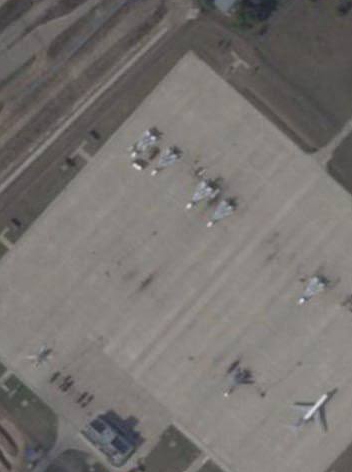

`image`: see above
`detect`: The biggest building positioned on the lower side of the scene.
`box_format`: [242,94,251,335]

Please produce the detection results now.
[84,415,135,465]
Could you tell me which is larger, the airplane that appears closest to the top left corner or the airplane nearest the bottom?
the airplane nearest the bottom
